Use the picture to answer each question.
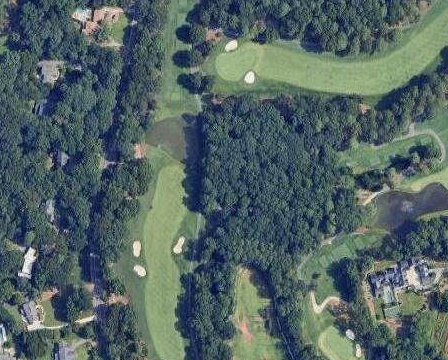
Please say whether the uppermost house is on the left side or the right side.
left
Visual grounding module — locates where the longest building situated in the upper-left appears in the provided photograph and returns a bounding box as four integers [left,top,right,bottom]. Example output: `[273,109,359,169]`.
[82,6,121,34]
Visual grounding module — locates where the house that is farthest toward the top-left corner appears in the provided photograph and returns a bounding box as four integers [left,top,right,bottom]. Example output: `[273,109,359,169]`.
[39,62,59,84]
